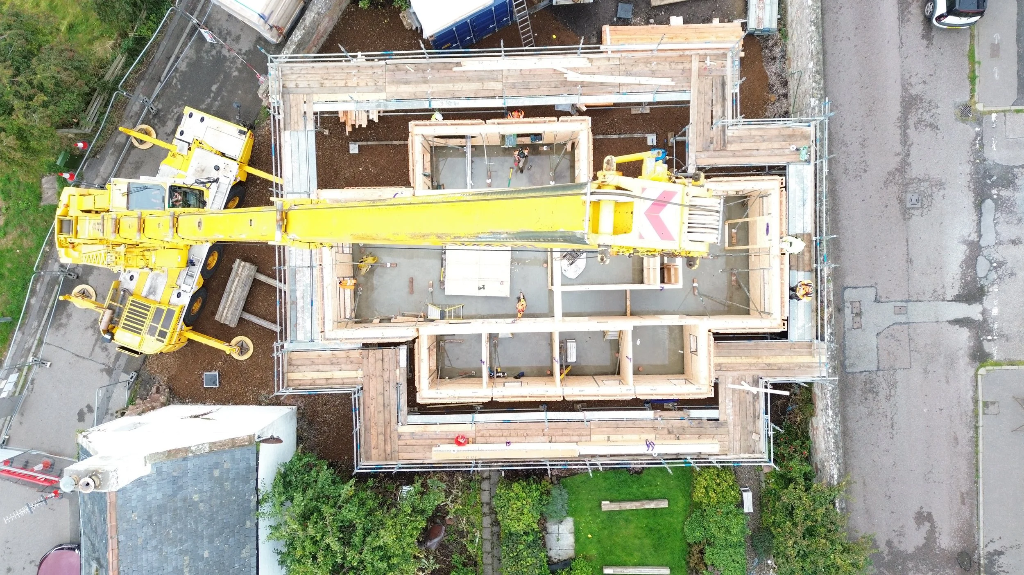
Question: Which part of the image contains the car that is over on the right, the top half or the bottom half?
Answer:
top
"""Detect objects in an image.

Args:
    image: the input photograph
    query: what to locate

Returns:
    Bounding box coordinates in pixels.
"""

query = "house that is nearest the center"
[319,117,784,401]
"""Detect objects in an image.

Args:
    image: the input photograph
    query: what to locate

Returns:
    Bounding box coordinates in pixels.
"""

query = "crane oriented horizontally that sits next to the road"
[55,102,727,358]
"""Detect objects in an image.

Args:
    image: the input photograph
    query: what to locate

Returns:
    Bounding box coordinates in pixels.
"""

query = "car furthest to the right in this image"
[925,0,987,28]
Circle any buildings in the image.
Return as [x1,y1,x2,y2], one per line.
[319,117,784,401]
[51,404,300,575]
